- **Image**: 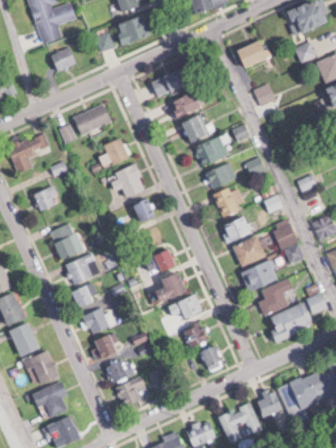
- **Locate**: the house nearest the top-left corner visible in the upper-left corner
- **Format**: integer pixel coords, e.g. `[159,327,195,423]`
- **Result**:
[25,0,78,46]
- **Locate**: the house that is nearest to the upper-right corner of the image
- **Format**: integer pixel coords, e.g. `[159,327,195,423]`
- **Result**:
[288,0,331,34]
